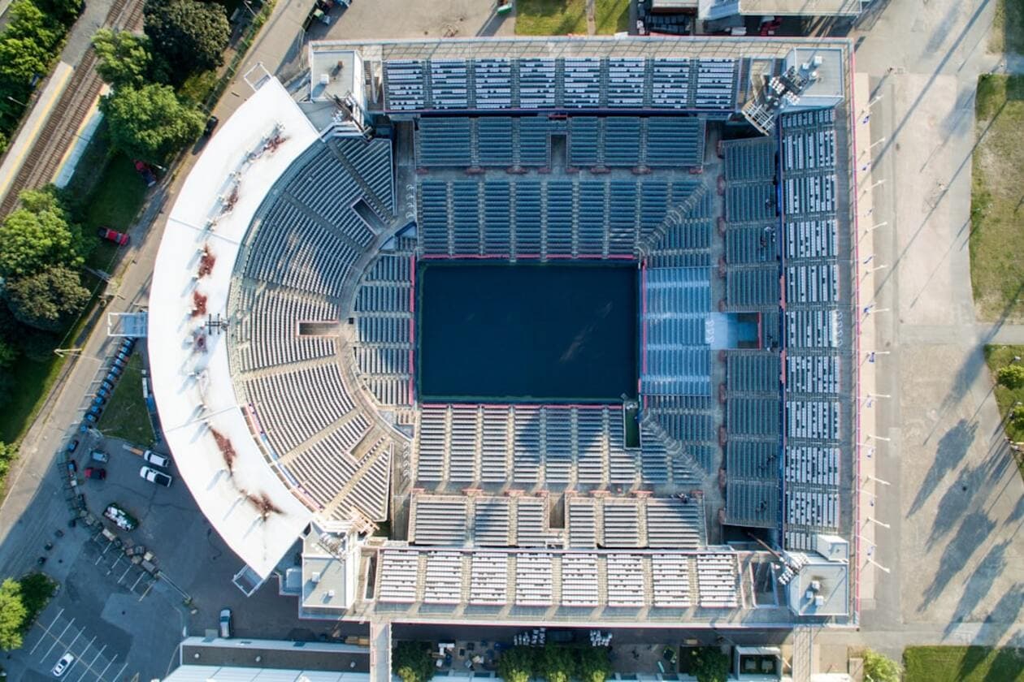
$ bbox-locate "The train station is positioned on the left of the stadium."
[0,62,116,209]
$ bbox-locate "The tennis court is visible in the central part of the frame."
[416,259,640,405]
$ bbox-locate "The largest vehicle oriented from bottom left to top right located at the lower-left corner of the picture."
[49,653,73,681]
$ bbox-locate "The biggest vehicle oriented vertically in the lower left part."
[217,609,231,640]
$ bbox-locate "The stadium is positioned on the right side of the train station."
[107,35,862,634]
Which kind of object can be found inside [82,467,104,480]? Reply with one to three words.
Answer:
vehicle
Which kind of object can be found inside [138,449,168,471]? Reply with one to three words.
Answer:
car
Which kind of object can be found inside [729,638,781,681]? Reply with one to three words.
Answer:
building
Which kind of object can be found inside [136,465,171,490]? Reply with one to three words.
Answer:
truck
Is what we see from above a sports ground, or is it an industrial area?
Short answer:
sports ground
